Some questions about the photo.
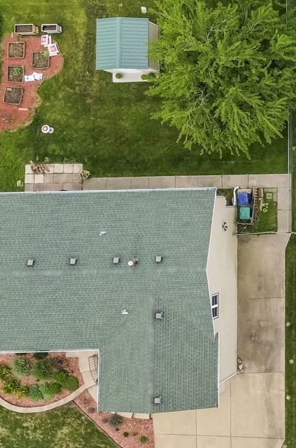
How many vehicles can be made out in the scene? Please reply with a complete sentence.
The count of vehicles is 0.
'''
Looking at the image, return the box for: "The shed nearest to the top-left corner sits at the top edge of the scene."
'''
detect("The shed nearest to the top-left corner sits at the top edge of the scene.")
[96,15,157,82]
